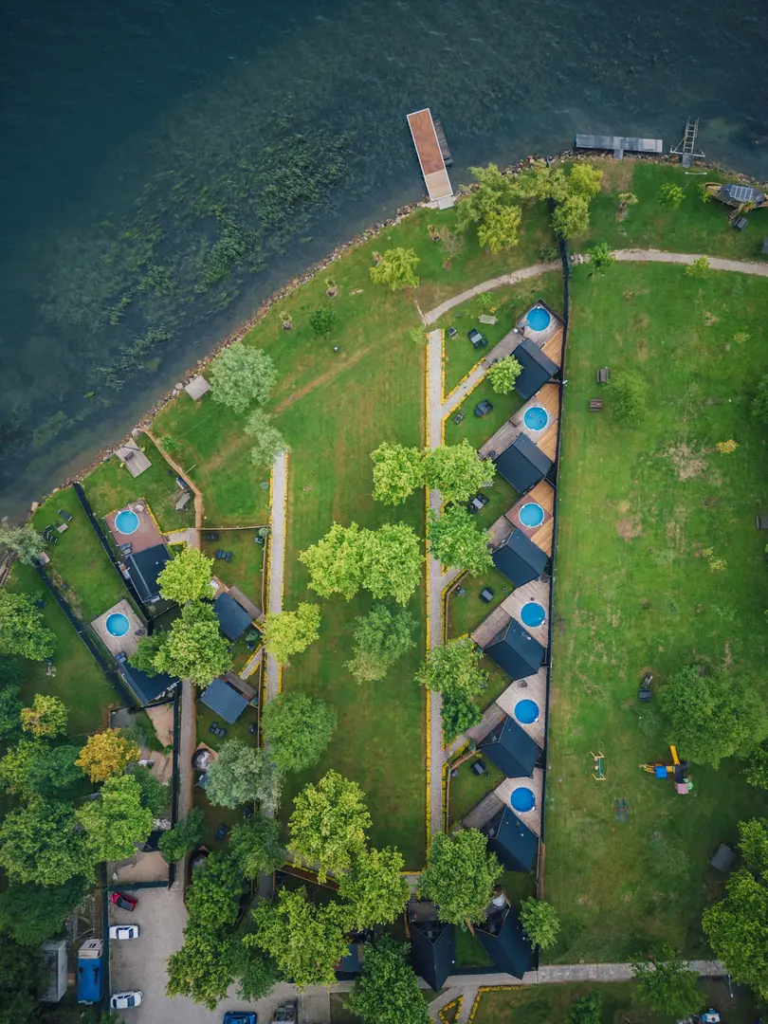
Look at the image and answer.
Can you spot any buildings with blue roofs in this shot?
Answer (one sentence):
Yes, this view includes a building with a blue roof.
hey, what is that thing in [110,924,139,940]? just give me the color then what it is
white car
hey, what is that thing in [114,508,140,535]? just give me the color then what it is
blue swimming pool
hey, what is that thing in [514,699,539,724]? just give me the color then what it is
blue swimming pool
